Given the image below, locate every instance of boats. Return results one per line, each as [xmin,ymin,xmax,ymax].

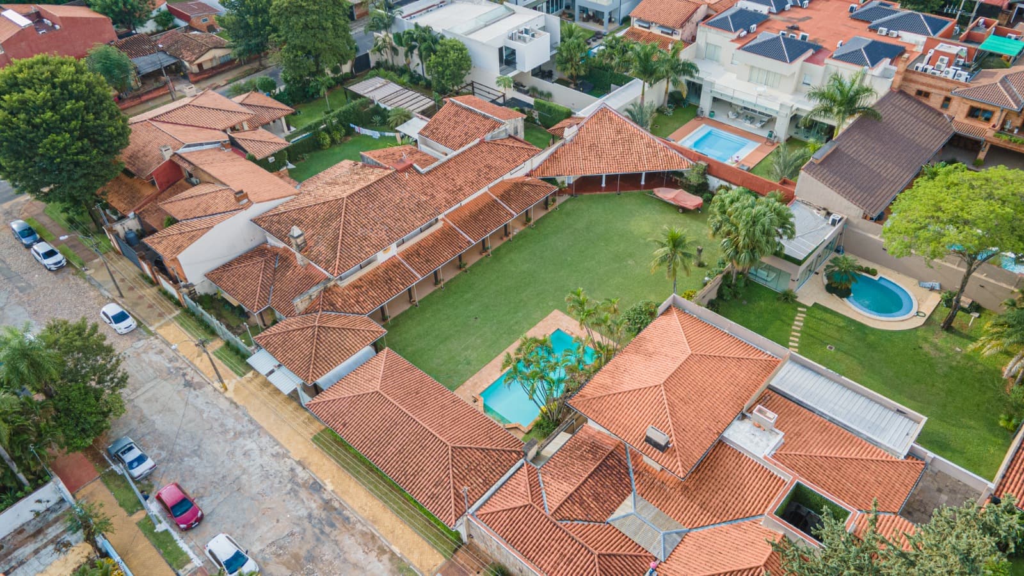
[643,192,701,215]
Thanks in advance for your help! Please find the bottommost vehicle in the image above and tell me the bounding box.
[203,526,262,576]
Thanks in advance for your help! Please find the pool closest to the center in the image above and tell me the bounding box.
[454,310,623,441]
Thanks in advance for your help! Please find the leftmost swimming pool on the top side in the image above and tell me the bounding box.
[664,115,782,169]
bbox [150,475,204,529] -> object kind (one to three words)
car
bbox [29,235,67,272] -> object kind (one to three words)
car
